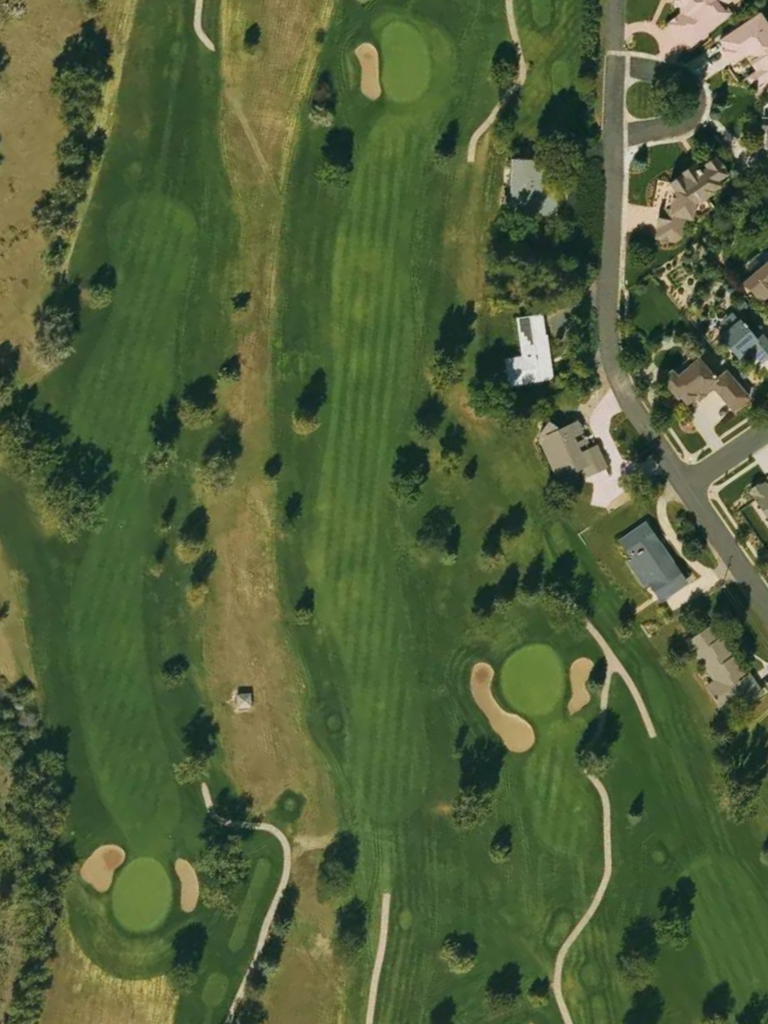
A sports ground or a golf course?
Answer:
golf course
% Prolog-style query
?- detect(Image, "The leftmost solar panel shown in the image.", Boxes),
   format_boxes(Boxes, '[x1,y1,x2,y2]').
[520,319,535,344]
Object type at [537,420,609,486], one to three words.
house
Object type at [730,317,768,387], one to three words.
house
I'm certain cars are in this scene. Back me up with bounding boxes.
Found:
[707,47,717,55]
[712,52,722,60]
